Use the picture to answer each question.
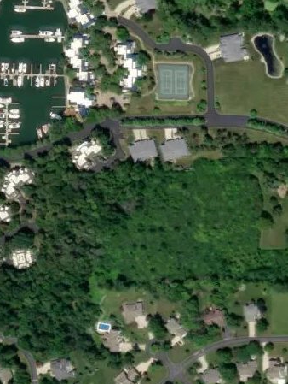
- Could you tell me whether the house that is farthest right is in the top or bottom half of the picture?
bottom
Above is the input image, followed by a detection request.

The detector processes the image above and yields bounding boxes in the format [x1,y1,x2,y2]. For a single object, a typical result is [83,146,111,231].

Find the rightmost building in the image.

[266,361,286,384]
